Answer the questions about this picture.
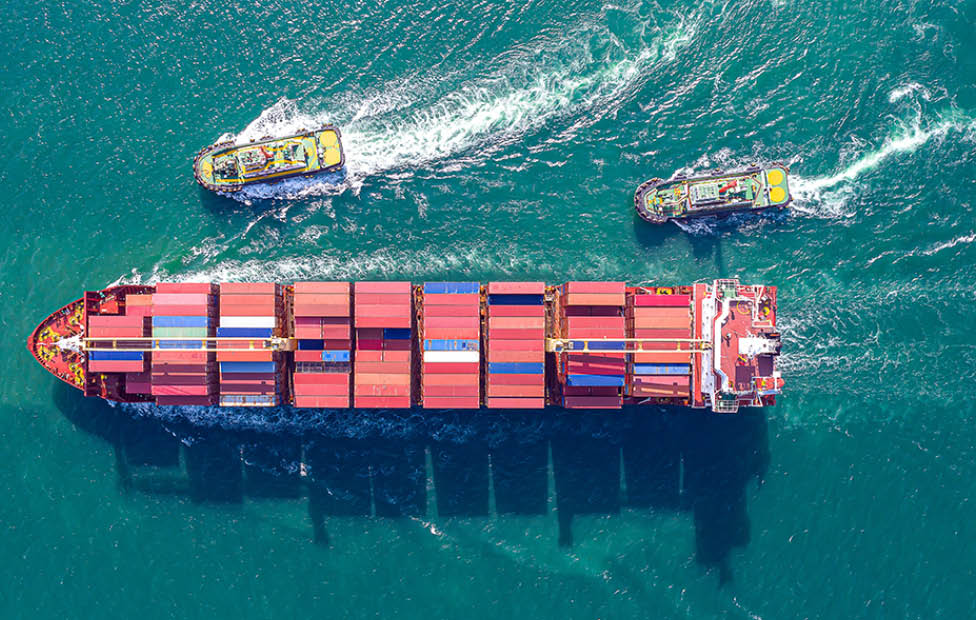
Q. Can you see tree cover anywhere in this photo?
No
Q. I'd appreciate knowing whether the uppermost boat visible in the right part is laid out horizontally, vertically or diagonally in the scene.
horizontally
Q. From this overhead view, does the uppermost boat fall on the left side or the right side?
left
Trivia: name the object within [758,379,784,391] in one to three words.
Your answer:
boat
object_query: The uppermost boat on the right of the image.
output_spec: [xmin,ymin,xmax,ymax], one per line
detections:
[635,159,792,223]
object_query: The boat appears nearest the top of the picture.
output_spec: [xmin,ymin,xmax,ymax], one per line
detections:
[192,123,345,188]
